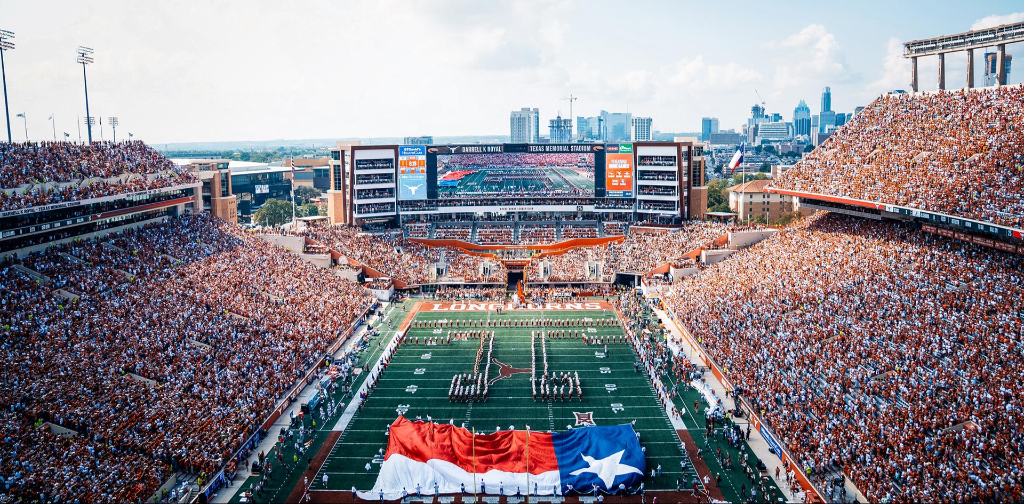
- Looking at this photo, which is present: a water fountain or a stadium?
stadium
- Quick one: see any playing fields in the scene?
Yes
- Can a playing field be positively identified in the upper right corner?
No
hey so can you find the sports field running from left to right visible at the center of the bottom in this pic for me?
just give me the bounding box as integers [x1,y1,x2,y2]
[311,310,704,489]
